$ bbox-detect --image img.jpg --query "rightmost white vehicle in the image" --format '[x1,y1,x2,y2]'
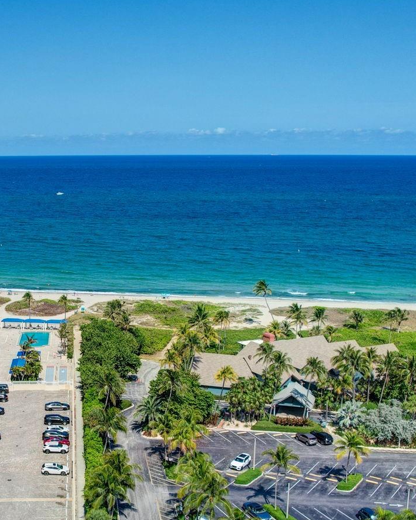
[230,452,251,470]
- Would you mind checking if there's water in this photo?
Yes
